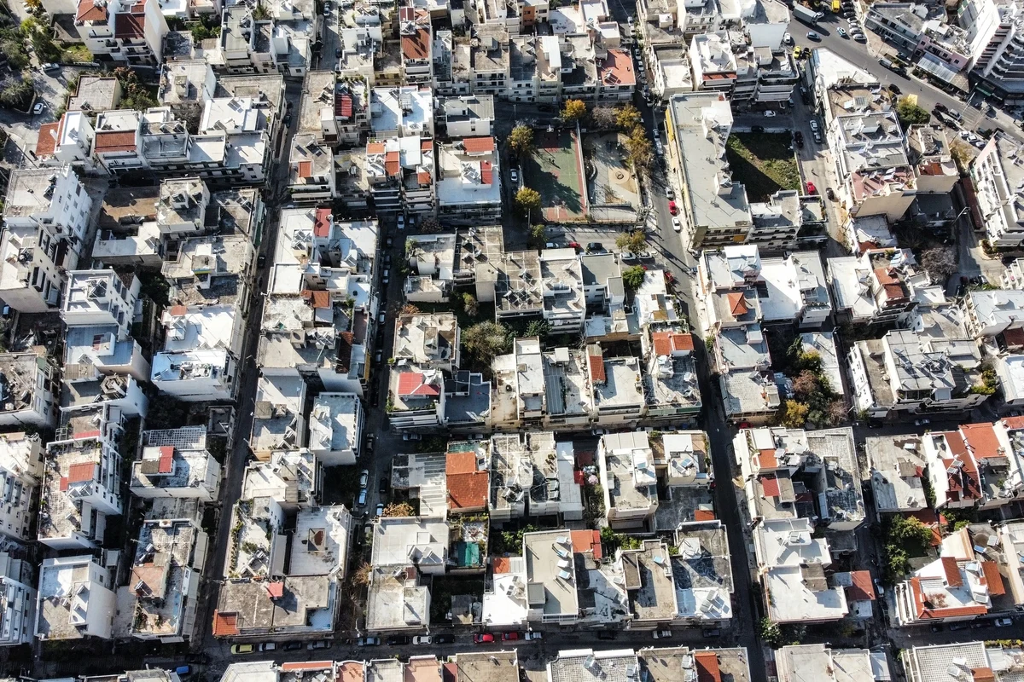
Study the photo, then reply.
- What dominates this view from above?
buildings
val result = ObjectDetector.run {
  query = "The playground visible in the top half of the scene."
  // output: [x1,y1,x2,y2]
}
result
[591,129,654,219]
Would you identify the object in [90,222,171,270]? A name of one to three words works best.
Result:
house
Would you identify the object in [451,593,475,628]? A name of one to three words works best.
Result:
shed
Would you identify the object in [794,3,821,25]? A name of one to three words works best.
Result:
truck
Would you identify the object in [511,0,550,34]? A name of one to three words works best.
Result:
building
